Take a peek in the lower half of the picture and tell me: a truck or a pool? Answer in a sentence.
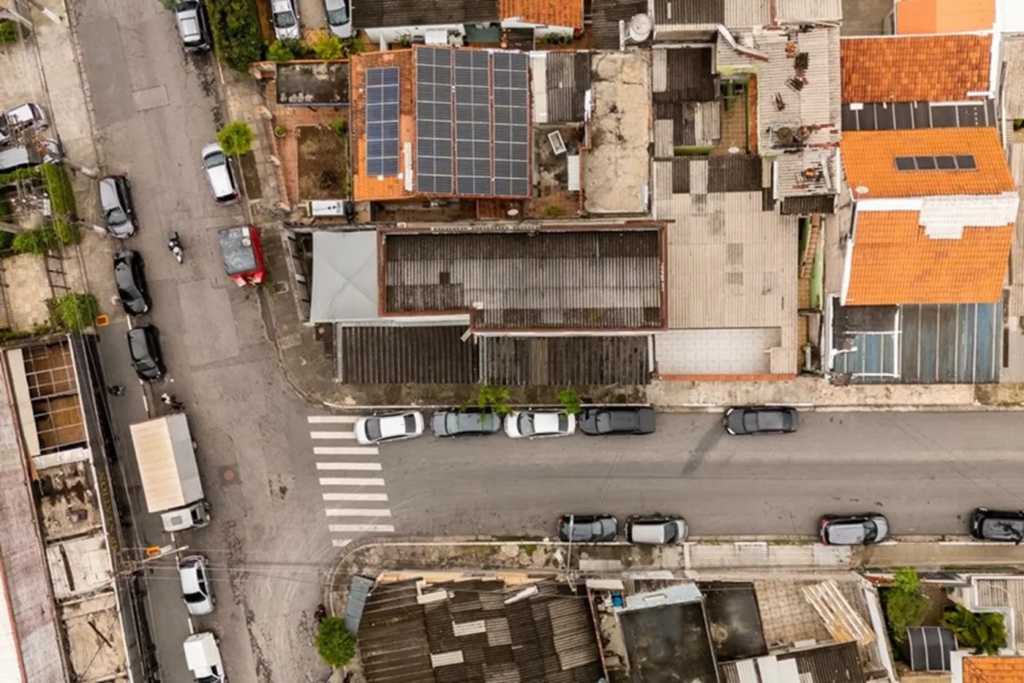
There is a truck in the lower half of the picture.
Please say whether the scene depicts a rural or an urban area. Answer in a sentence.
The land in this view is best described as urban.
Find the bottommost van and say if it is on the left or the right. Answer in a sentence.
You can find the bottommost van on the left side of the picture.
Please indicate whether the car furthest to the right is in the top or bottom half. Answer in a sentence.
It is in the bottom half that the car furthest to the right appears.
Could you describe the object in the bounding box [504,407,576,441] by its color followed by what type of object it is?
white car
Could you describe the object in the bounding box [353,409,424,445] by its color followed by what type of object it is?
white car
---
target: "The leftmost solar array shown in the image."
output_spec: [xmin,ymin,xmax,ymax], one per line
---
[366,67,399,176]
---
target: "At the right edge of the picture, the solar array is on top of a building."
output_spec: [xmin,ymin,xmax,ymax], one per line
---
[895,156,977,171]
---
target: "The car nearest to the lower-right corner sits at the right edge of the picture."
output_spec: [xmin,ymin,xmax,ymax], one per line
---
[966,508,1024,544]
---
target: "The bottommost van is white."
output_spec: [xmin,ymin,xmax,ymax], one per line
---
[181,623,241,683]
